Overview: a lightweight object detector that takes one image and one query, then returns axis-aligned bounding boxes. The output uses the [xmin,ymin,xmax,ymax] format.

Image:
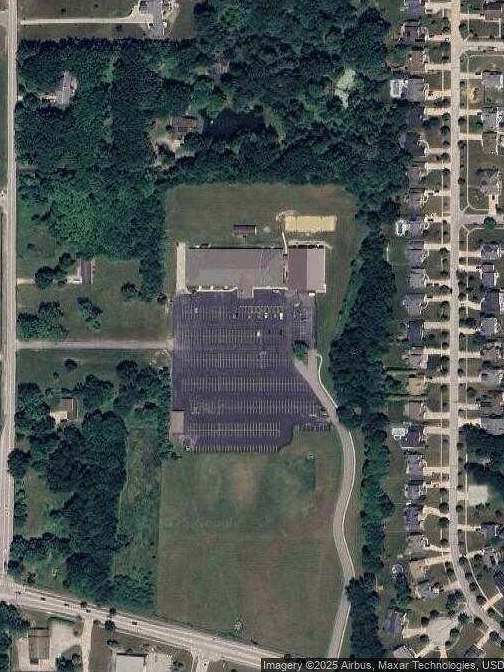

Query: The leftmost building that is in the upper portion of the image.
[59,70,71,104]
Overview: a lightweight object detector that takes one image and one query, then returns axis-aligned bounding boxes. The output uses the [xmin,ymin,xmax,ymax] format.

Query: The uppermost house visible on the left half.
[141,0,167,37]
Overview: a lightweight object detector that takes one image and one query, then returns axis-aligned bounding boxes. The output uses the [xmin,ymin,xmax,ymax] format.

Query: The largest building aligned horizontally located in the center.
[188,248,326,296]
